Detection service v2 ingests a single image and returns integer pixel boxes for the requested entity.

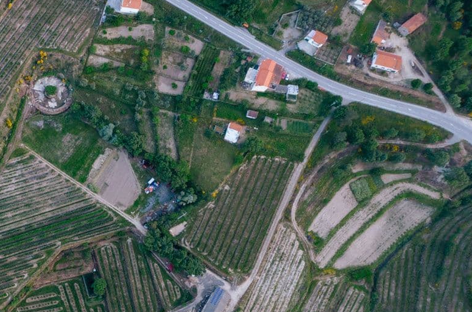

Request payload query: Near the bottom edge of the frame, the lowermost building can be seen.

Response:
[197,285,231,312]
